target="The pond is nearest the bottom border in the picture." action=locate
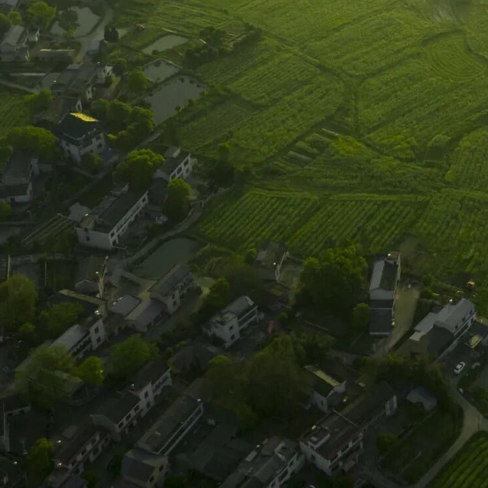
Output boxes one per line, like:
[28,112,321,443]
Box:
[132,238,203,278]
